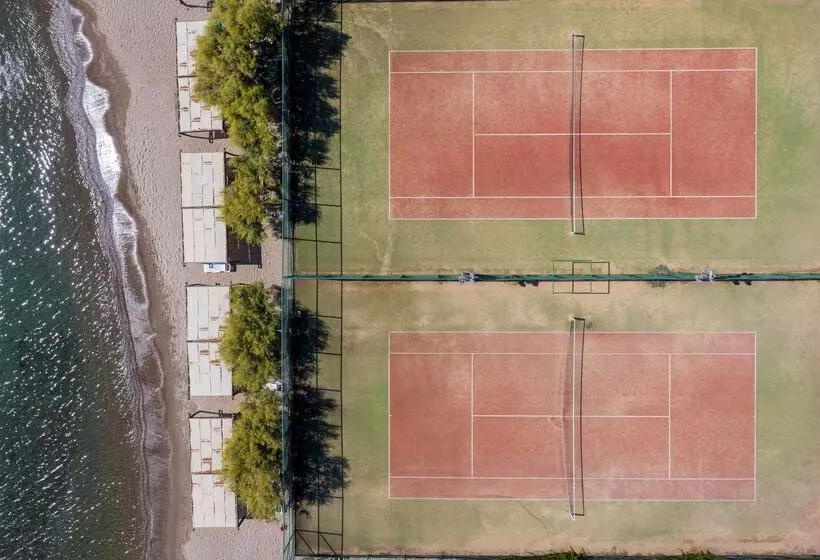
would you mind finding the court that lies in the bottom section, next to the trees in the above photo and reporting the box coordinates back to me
[295,279,820,557]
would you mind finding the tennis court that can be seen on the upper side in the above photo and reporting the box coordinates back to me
[295,0,820,274]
